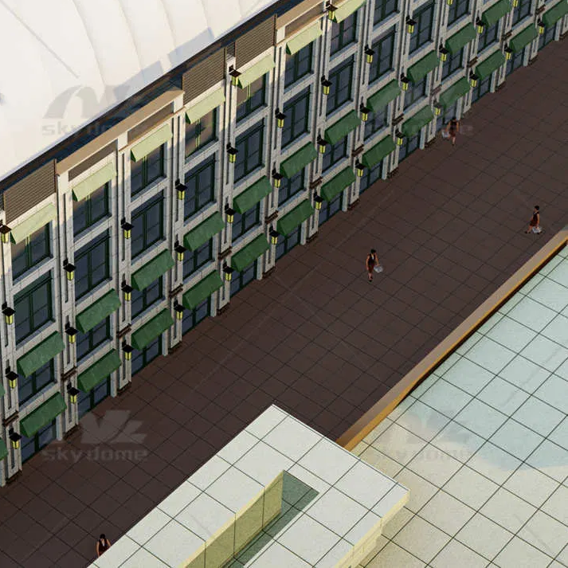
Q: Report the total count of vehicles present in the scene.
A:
0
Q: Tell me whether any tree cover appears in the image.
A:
No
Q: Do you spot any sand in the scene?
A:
No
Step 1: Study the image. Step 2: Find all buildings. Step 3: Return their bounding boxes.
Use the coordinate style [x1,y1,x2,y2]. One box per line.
[90,232,568,568]
[0,0,568,479]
